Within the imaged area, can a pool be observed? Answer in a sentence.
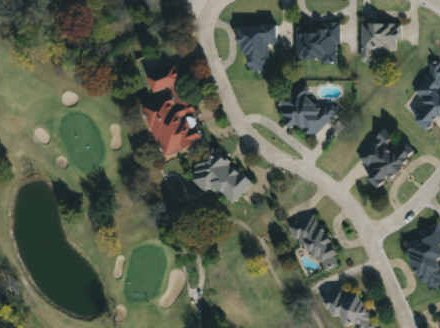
Yes, there's a pool here.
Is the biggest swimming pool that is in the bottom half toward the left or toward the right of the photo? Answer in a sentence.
It is on the right.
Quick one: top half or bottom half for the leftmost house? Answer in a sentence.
The top half of the photo is where the leftmost house is.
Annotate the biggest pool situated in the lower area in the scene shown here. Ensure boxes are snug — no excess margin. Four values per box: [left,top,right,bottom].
[296,247,320,276]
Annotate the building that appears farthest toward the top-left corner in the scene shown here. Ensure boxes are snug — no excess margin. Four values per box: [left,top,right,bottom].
[144,64,203,160]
